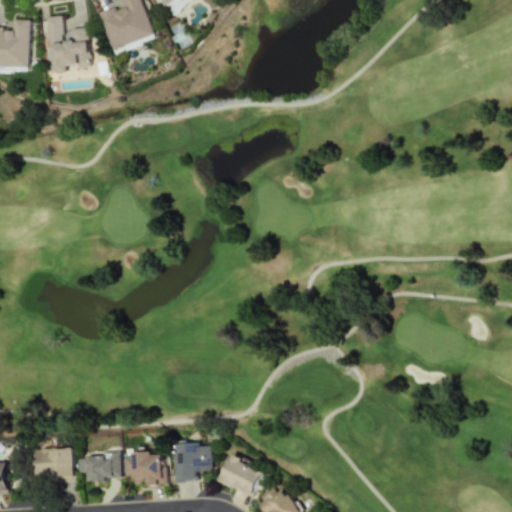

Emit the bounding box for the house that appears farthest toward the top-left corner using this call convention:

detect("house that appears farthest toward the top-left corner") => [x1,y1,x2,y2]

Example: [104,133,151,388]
[0,19,32,73]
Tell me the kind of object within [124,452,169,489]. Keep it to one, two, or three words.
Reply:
house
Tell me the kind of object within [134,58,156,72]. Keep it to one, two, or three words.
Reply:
swimming pool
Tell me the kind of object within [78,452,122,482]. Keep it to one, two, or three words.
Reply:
house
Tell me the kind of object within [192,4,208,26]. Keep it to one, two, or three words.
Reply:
swimming pool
